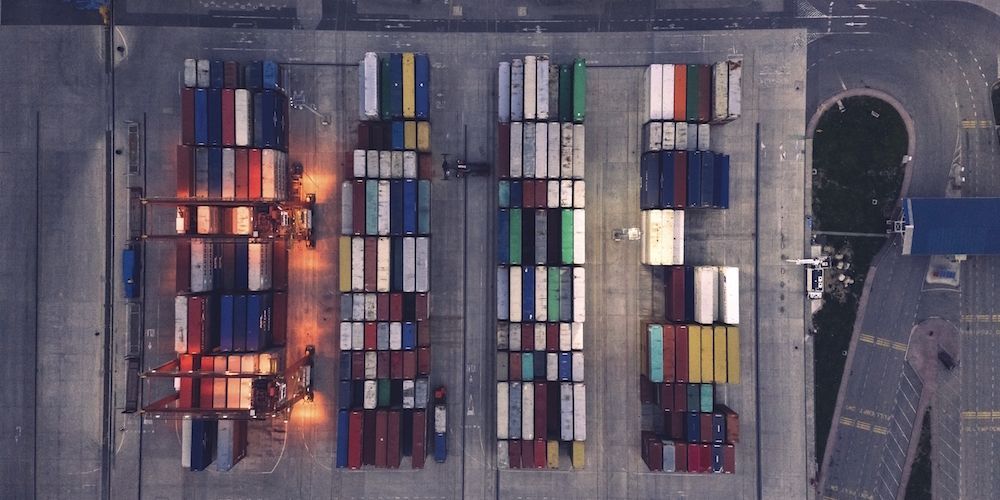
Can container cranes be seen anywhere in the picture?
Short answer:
Yes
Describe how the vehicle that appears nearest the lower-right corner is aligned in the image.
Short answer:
diagonally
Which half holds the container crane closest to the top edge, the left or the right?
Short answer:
left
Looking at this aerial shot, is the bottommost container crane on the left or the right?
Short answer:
left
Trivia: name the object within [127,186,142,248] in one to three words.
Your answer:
rail car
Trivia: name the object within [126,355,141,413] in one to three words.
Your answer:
rail car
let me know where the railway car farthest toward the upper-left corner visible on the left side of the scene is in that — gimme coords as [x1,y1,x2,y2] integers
[127,119,142,178]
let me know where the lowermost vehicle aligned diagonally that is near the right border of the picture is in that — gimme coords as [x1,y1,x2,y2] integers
[932,347,954,369]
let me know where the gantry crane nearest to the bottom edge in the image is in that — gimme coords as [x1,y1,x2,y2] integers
[138,344,313,421]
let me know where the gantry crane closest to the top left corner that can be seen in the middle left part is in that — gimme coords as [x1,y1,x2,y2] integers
[138,193,313,253]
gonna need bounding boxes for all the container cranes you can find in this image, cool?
[138,193,313,253]
[138,344,313,421]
